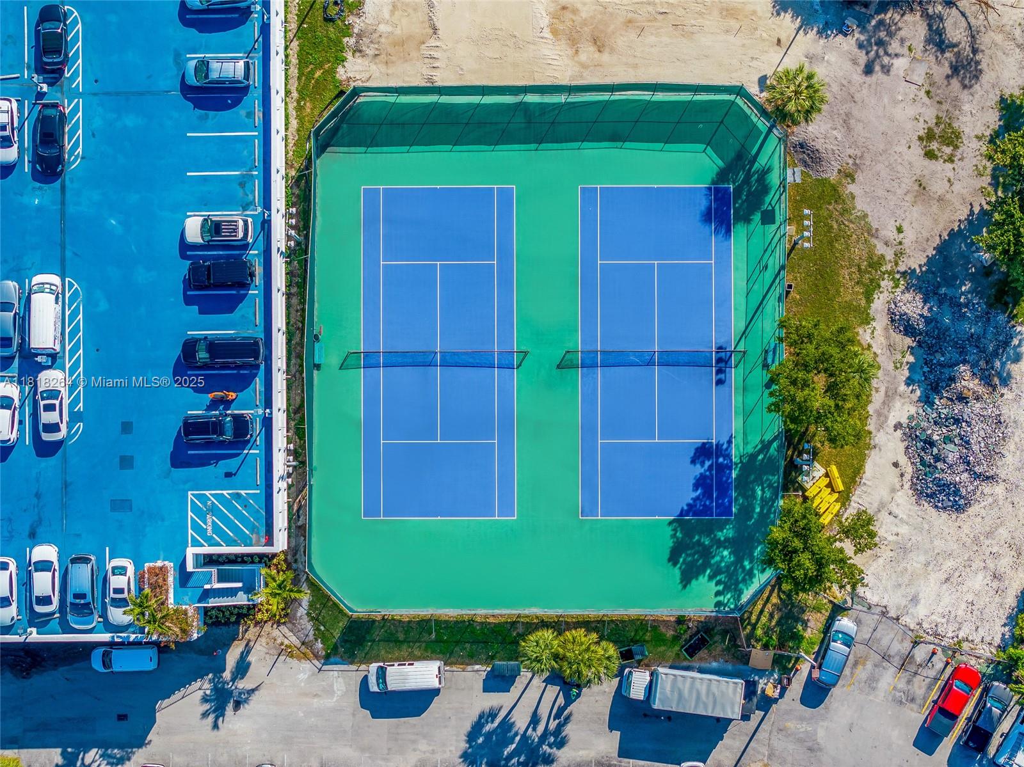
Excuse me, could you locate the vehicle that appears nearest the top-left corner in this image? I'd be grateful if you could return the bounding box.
[35,5,69,69]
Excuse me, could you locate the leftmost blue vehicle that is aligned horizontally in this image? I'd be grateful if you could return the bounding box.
[91,643,158,675]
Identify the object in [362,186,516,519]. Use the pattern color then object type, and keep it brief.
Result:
blue tennis court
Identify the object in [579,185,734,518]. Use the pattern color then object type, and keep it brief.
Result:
blue tennis court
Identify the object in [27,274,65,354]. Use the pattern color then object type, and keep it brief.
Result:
white van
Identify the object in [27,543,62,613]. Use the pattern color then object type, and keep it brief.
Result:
white car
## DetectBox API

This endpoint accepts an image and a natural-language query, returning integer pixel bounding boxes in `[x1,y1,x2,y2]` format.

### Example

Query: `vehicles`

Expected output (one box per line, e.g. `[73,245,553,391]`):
[812,614,858,691]
[35,5,69,69]
[27,543,62,613]
[91,643,158,675]
[189,256,256,289]
[104,559,137,624]
[621,661,755,719]
[182,334,264,369]
[0,557,20,625]
[369,660,444,694]
[925,661,981,741]
[0,280,23,357]
[33,104,69,176]
[182,410,254,445]
[185,212,253,247]
[27,274,65,354]
[680,761,705,767]
[0,98,22,166]
[957,679,1012,759]
[35,370,70,441]
[206,390,238,401]
[185,55,252,89]
[0,381,23,446]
